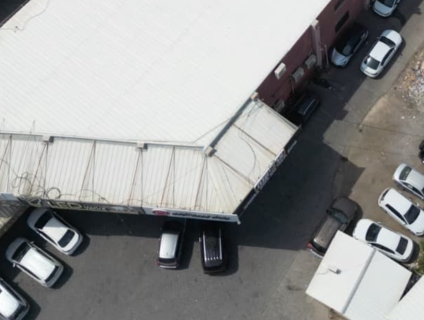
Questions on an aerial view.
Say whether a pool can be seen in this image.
No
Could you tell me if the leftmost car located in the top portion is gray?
No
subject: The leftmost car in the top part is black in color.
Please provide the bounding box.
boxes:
[282,79,332,133]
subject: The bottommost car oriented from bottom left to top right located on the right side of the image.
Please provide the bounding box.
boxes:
[307,191,362,261]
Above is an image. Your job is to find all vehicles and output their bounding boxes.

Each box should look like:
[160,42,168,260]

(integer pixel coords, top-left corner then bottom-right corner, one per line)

[25,213,88,260]
[372,181,424,243]
[388,157,424,206]
[373,0,403,18]
[307,191,362,261]
[282,79,332,133]
[348,214,421,268]
[4,234,66,292]
[196,227,229,290]
[152,222,189,280]
[331,17,373,71]
[0,273,35,320]
[359,26,406,81]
